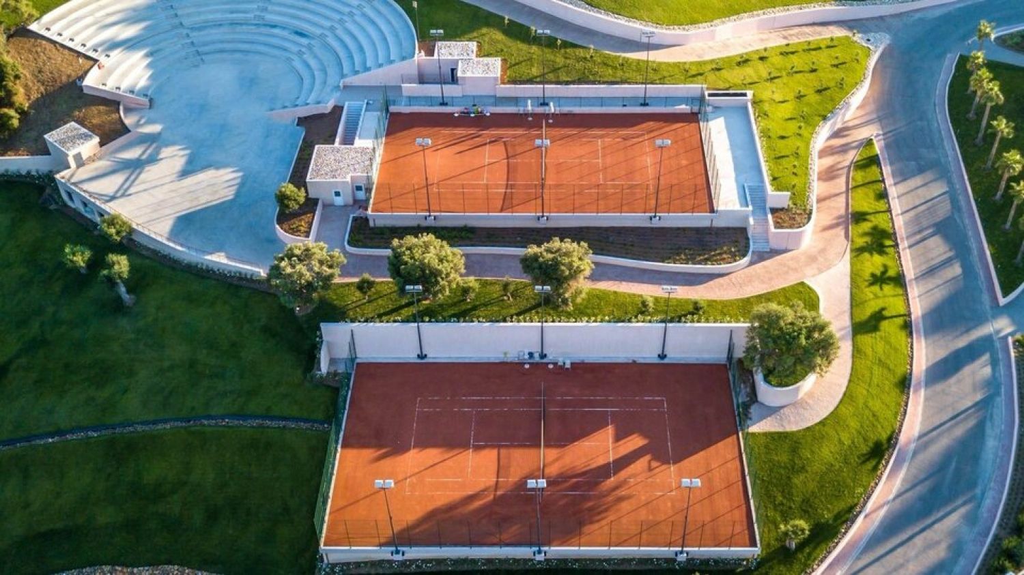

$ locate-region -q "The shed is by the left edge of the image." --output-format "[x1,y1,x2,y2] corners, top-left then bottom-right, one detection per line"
[47,123,104,169]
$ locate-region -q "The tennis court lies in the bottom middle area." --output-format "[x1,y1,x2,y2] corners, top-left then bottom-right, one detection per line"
[324,362,756,548]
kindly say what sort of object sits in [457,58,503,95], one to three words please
building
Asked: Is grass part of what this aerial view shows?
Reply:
Yes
